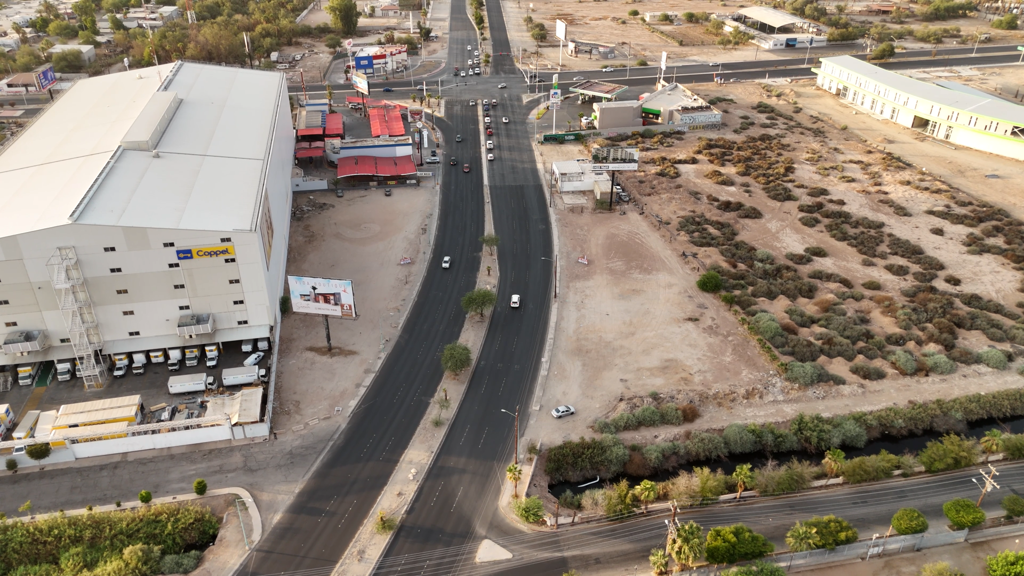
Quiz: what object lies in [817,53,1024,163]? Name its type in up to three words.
building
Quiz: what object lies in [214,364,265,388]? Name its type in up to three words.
truck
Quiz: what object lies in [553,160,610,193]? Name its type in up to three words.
house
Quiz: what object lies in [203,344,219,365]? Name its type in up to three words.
vehicle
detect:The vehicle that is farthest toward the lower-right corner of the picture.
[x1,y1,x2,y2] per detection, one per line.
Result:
[551,403,576,417]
